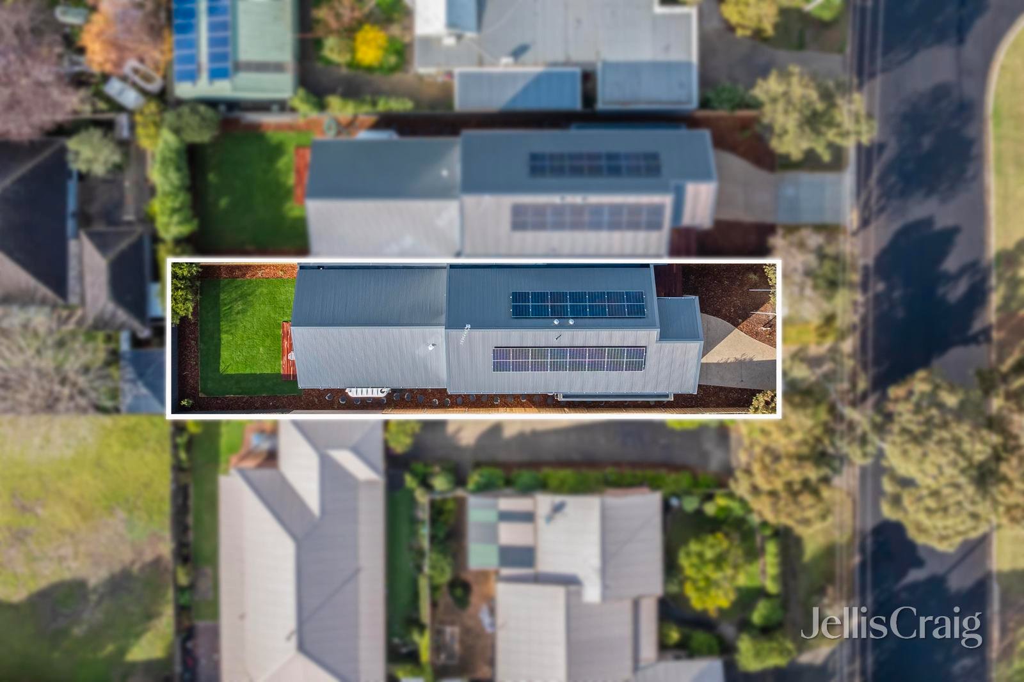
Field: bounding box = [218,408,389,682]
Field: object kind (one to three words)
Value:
house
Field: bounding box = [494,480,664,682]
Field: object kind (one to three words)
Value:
house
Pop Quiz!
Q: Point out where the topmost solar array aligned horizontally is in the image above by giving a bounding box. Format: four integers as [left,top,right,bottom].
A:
[528,152,664,175]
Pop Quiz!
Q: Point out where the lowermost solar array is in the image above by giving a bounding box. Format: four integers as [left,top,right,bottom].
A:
[491,348,646,373]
